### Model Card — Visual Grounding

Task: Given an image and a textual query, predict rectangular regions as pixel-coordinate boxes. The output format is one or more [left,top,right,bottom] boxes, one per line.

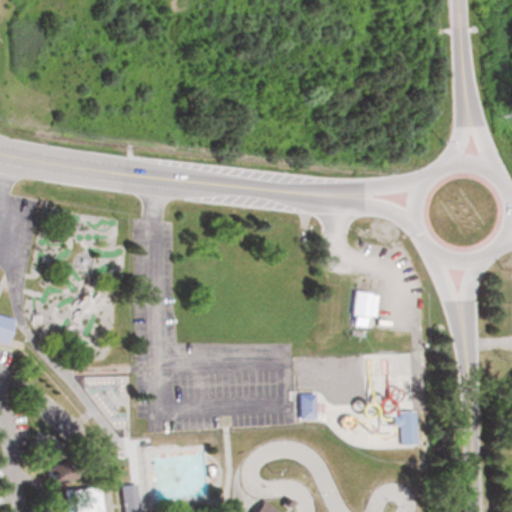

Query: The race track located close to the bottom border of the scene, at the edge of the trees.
[240,438,420,512]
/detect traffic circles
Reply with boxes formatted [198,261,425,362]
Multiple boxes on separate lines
[365,125,512,302]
